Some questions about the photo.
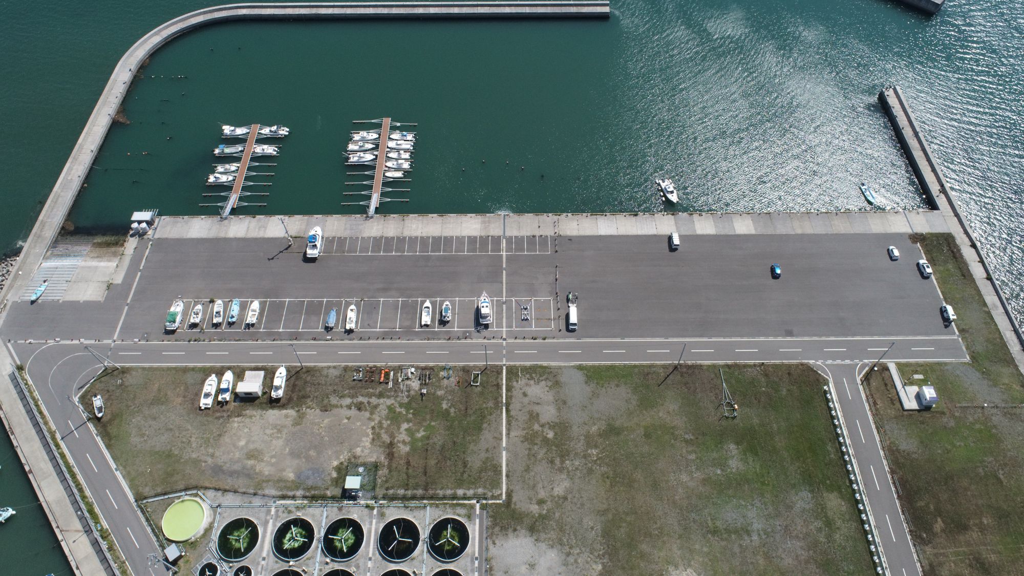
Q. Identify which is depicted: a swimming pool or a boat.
boat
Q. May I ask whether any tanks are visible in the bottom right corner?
No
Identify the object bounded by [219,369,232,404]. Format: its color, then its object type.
white boat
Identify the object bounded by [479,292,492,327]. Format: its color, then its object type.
white boat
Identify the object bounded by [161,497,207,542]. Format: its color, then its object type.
green storage tank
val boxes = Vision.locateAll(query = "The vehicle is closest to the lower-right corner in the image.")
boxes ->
[942,306,957,322]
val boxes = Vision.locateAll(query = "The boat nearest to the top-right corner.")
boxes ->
[860,183,874,202]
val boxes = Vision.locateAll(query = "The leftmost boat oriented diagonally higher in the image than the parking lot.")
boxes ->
[658,179,678,203]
